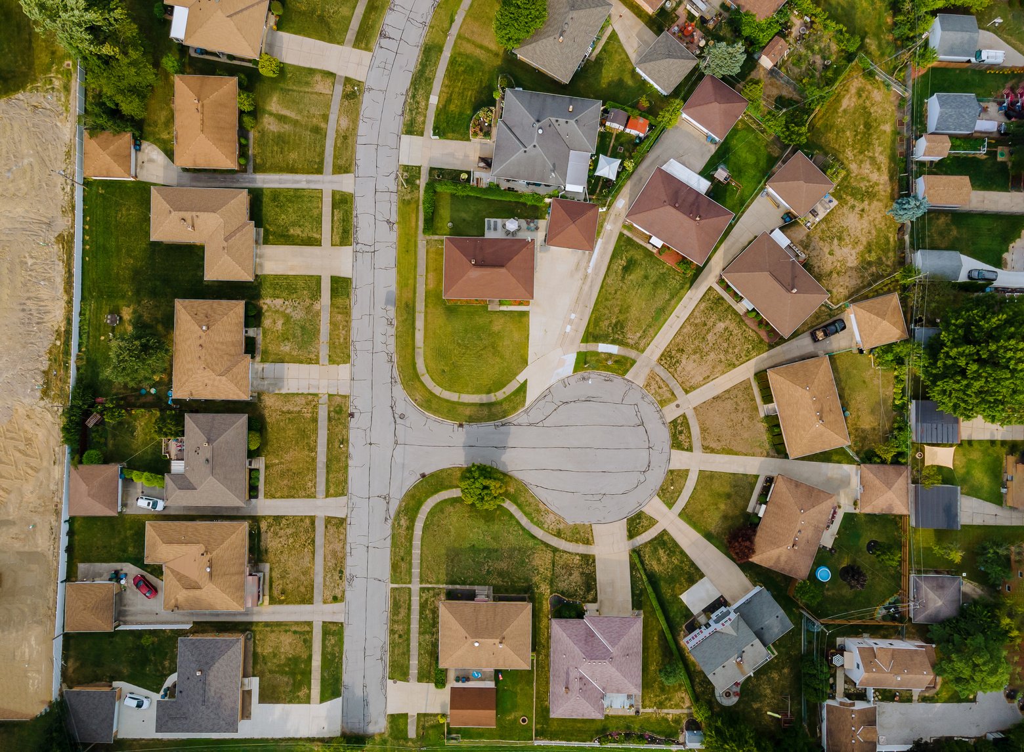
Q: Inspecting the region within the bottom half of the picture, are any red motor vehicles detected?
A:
Yes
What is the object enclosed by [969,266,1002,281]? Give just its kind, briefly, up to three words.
car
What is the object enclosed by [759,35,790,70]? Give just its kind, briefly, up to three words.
shed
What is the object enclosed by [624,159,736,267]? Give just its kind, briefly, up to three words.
house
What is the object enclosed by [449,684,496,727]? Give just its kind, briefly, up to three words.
building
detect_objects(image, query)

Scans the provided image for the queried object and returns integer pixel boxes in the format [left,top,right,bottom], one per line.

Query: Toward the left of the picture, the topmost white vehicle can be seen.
[132,496,164,512]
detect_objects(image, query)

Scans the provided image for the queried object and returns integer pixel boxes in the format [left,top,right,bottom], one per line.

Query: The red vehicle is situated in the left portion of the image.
[130,573,157,602]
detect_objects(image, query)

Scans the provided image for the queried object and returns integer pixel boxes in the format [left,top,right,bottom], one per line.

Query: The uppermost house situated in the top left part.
[162,0,273,62]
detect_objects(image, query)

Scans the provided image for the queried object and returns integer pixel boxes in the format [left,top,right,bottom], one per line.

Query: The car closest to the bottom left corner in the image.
[120,694,150,712]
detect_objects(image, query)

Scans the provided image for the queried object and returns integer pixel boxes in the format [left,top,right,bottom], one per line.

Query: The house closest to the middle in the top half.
[443,237,535,301]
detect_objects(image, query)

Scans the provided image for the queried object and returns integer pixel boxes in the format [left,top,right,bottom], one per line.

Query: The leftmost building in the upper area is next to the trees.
[83,130,137,179]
